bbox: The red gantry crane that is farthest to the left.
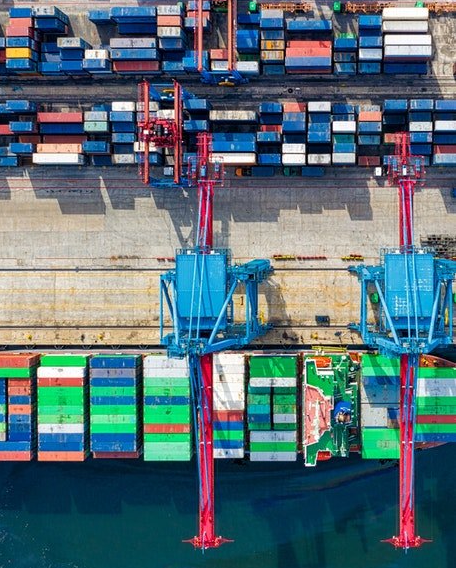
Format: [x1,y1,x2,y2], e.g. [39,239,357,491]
[139,78,201,189]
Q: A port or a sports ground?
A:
port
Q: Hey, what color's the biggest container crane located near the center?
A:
blue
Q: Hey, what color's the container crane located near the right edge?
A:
blue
